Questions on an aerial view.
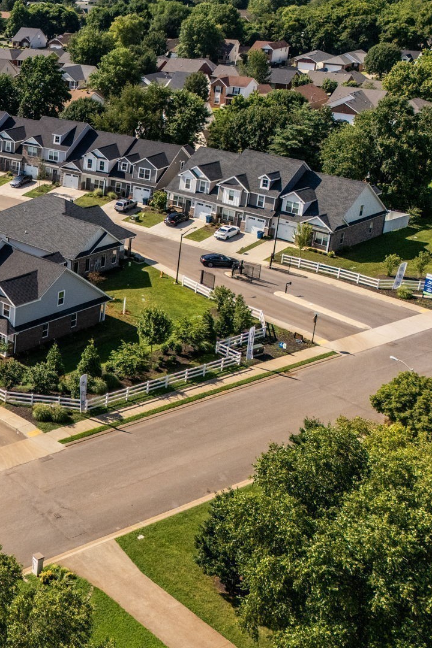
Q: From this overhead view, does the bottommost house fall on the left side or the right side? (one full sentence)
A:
It is on the left.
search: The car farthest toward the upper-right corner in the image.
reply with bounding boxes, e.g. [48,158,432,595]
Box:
[216,223,239,238]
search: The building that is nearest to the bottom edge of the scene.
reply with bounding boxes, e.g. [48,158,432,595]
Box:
[0,243,119,358]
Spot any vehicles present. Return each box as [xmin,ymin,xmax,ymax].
[7,174,30,186]
[113,195,136,211]
[216,223,239,238]
[196,253,238,270]
[164,210,186,224]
